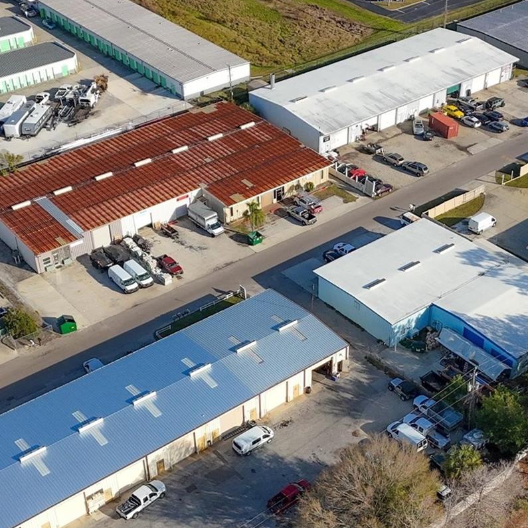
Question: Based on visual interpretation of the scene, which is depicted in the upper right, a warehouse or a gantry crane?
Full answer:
Looking in the upper right, you will find a warehouse.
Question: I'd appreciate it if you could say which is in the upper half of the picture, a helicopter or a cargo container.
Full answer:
It is a cargo container that can be seen in the upper half of the picture.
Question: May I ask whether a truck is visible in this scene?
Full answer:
Yes, the photo shows a truck.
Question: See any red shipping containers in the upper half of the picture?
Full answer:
Yes, you'll find a red shipping container in the upper half of the picture.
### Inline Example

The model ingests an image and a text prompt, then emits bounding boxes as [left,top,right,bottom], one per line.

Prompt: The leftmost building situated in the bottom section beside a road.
[0,287,352,528]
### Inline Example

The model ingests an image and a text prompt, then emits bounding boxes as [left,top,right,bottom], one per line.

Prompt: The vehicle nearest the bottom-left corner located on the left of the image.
[117,483,166,519]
